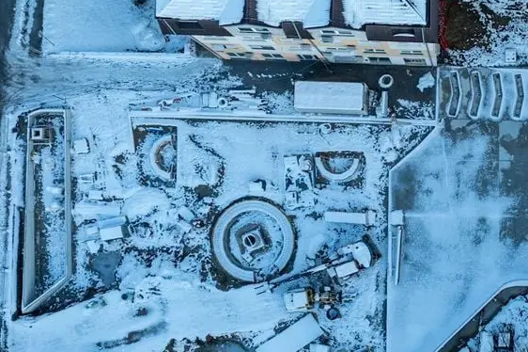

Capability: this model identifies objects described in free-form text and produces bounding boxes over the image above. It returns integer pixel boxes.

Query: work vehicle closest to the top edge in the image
[266,244,378,294]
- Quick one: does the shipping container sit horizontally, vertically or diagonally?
horizontally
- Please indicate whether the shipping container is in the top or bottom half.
top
